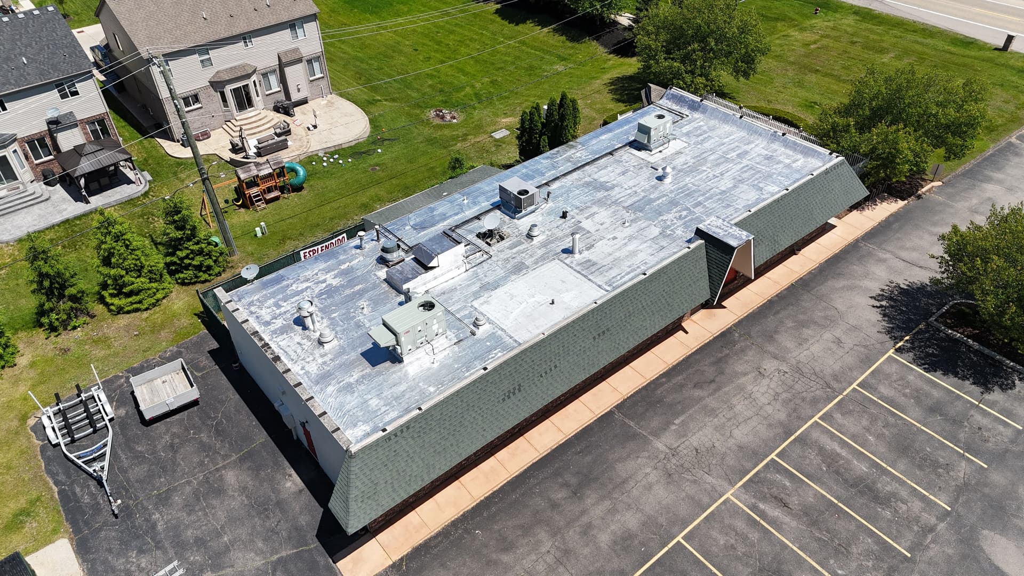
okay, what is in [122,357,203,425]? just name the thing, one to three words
trailer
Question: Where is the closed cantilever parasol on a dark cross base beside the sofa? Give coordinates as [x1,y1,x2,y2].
[239,128,256,160]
